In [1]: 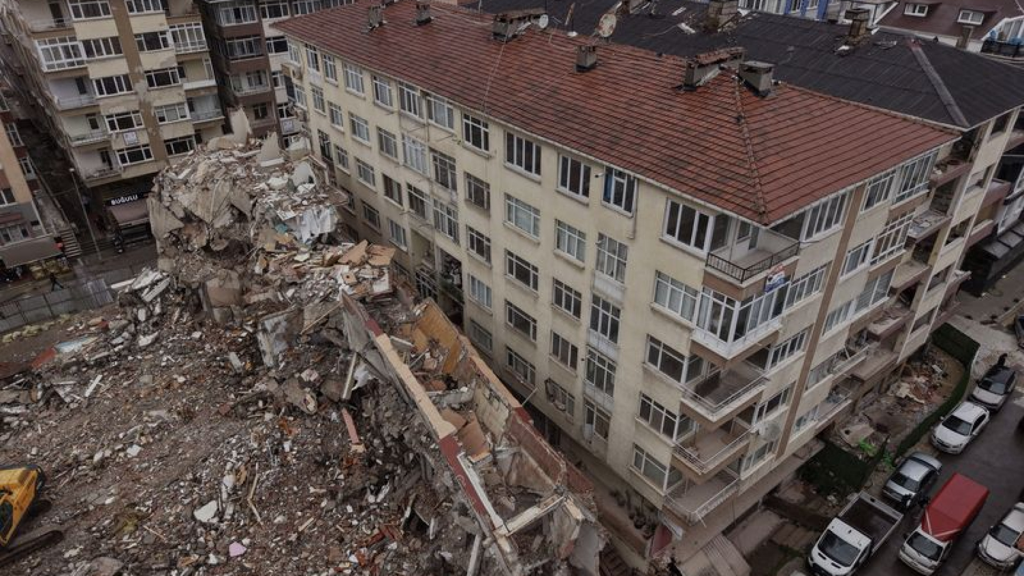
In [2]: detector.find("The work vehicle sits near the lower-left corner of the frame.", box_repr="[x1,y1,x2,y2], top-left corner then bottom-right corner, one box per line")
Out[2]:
[0,462,60,574]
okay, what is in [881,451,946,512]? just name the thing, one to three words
car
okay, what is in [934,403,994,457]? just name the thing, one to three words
car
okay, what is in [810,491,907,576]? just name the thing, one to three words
truck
